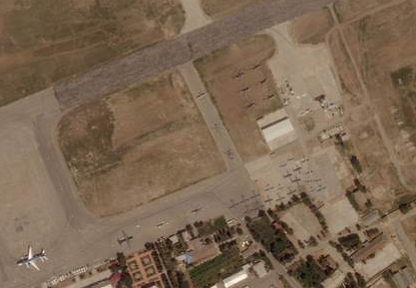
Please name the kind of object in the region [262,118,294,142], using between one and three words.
hangar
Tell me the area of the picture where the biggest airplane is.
bottom left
